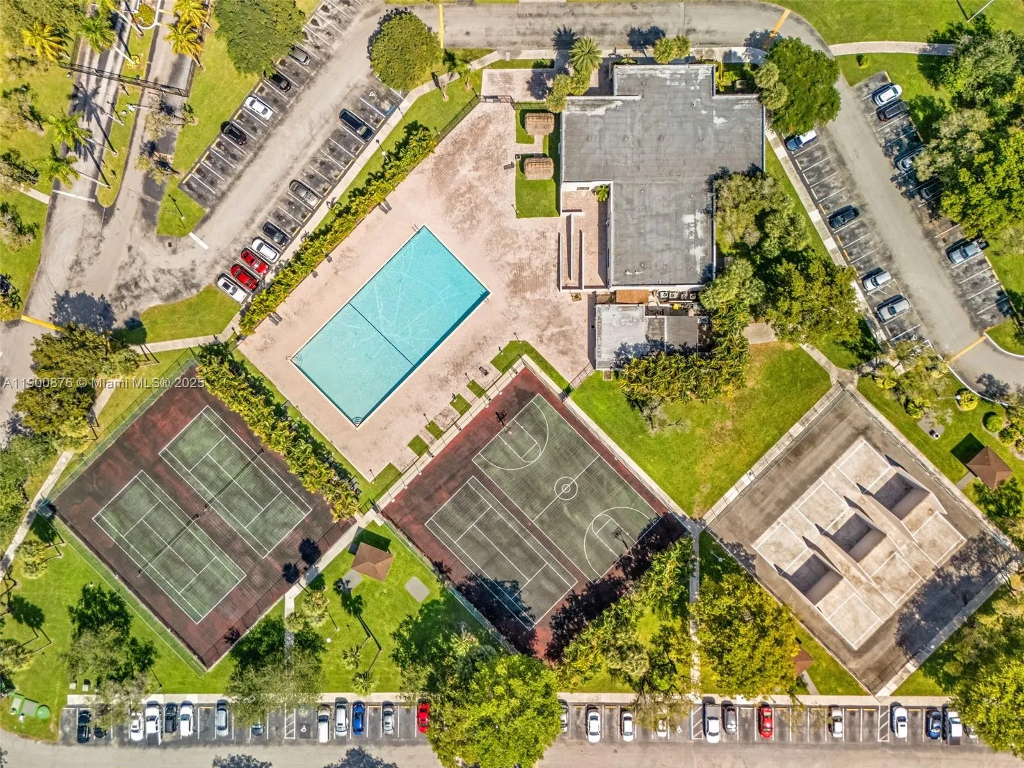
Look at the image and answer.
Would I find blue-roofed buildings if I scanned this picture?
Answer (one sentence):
No, the frame has no blue-roofed building in it.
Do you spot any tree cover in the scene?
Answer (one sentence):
Yes, there is tree cover in the image.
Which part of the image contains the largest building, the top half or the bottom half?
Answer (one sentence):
The largest building sits in the top half of the picture.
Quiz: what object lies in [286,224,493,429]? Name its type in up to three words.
swimming pool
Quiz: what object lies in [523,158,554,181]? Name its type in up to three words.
shed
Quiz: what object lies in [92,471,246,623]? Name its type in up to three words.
tennis court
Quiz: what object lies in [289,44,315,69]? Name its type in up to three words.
car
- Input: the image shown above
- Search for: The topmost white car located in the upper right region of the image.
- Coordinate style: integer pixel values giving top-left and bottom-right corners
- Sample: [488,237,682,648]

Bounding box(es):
[871,84,902,107]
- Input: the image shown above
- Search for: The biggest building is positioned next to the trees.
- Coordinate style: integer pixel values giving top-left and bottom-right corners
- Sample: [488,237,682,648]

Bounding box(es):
[560,58,764,290]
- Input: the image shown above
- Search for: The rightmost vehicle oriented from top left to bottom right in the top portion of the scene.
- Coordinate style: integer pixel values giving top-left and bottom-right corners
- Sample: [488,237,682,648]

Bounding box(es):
[341,111,372,140]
